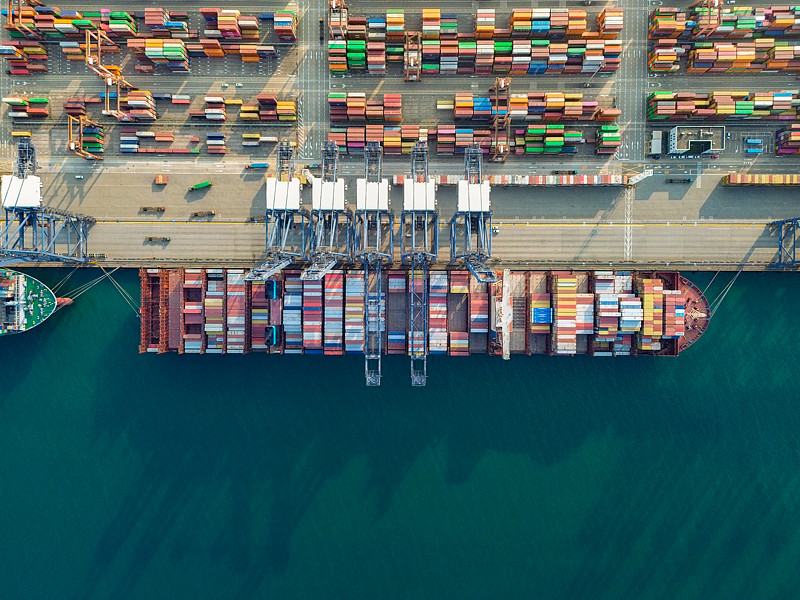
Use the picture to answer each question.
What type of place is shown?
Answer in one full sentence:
This image shows a port.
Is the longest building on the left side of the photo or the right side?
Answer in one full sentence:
You can find the longest building on the right side of the picture.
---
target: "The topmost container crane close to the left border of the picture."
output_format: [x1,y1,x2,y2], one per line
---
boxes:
[7,0,47,41]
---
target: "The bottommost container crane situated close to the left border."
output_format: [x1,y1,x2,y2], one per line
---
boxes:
[0,137,104,267]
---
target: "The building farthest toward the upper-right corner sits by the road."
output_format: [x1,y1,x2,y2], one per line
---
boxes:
[669,126,725,154]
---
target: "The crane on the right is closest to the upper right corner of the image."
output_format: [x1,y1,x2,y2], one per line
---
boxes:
[686,0,722,41]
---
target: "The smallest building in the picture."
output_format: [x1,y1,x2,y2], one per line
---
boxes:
[647,131,662,155]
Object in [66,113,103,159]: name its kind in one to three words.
container crane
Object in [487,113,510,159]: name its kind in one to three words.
container crane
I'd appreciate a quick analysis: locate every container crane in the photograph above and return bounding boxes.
[105,74,139,123]
[0,137,104,267]
[441,139,507,281]
[297,138,357,280]
[7,0,47,41]
[86,28,121,79]
[238,138,319,280]
[395,139,442,387]
[402,30,421,80]
[686,0,722,41]
[487,113,510,159]
[66,113,103,159]
[487,74,510,123]
[328,0,349,41]
[354,138,398,387]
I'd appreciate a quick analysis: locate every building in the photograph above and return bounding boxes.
[669,126,725,154]
[647,131,662,155]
